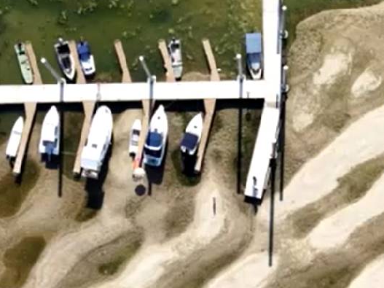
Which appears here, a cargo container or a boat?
boat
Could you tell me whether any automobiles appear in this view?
No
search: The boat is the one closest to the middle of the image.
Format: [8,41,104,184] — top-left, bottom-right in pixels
[185,112,204,157]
